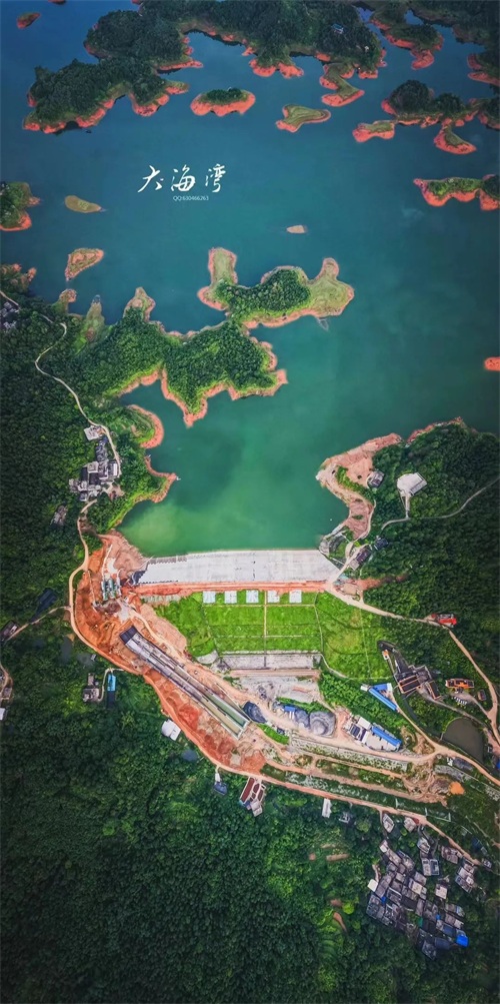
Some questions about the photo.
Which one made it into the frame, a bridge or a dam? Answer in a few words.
dam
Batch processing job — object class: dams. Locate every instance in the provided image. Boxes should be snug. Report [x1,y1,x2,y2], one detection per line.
[137,549,340,654]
